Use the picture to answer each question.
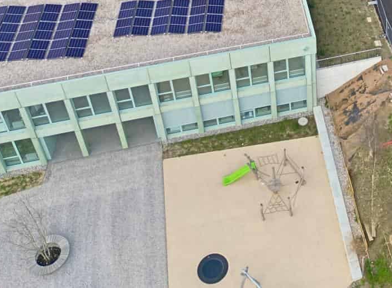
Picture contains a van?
No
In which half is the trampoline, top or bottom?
bottom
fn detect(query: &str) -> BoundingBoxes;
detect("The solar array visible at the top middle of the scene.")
[112,0,224,40]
